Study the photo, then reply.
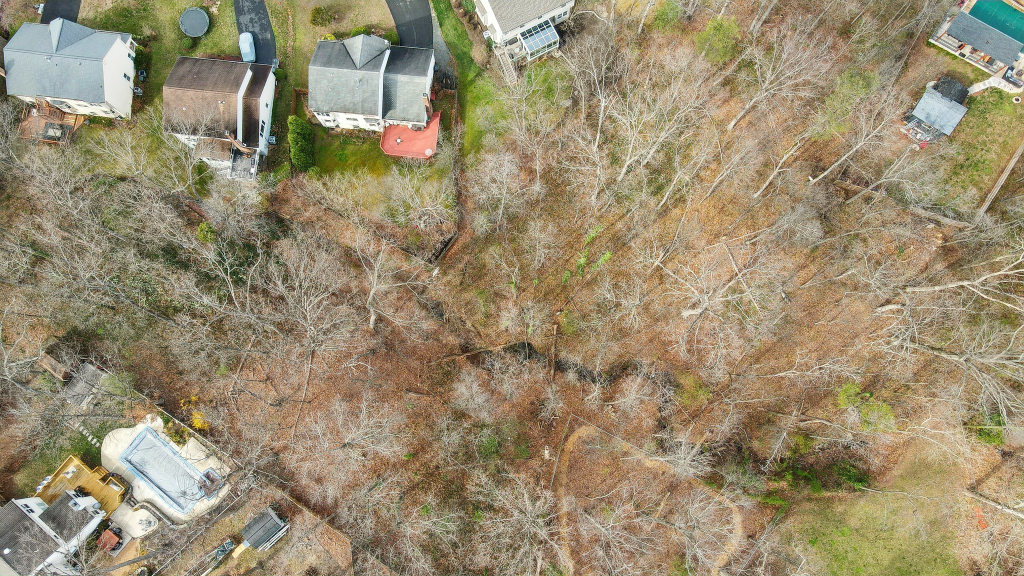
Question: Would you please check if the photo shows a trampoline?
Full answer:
Yes, there's a trampoline down there.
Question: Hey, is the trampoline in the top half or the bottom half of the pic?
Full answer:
The trampoline is in the top half of the image.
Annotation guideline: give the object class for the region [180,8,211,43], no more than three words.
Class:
trampoline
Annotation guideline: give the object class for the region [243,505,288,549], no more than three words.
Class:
shed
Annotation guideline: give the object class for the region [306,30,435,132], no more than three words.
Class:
house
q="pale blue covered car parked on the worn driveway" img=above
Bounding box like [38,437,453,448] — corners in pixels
[241,34,258,64]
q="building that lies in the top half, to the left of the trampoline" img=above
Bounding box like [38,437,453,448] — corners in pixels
[0,13,148,121]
